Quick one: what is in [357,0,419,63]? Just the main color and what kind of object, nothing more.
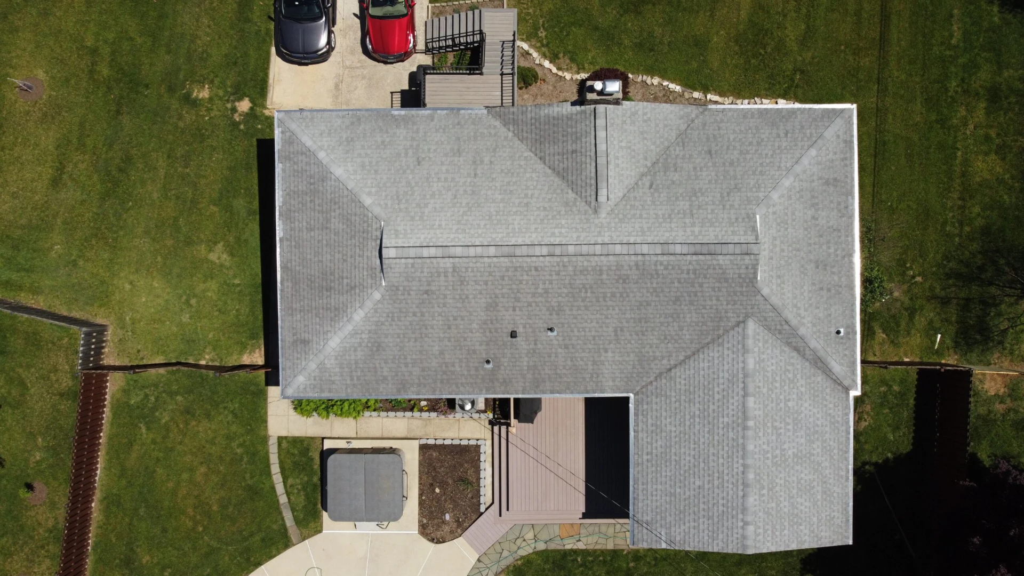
red car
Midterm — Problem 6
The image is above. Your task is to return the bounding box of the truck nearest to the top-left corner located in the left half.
[264,0,339,65]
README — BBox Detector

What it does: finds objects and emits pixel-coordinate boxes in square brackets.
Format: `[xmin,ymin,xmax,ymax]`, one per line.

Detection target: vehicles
[264,0,339,65]
[357,0,419,63]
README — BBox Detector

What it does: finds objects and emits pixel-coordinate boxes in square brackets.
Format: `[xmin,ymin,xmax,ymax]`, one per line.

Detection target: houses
[276,81,860,552]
